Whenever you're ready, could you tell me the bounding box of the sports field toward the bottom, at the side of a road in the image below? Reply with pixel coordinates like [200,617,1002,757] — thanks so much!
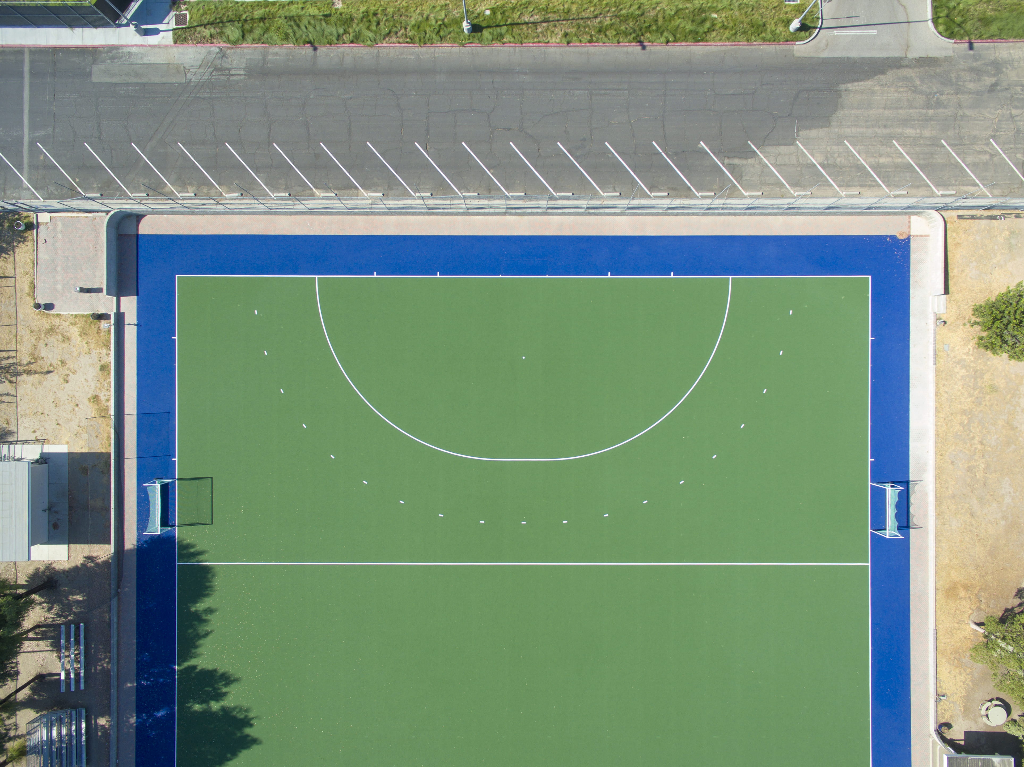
[176,276,871,767]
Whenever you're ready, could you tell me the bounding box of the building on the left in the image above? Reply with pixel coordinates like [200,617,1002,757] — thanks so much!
[0,461,48,561]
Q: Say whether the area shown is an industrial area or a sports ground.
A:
sports ground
